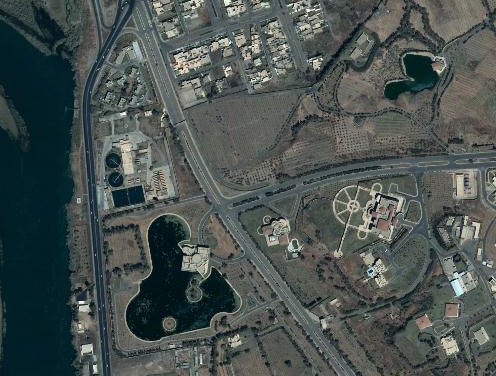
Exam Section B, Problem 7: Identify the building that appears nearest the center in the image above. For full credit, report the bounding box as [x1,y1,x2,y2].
[263,217,288,244]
